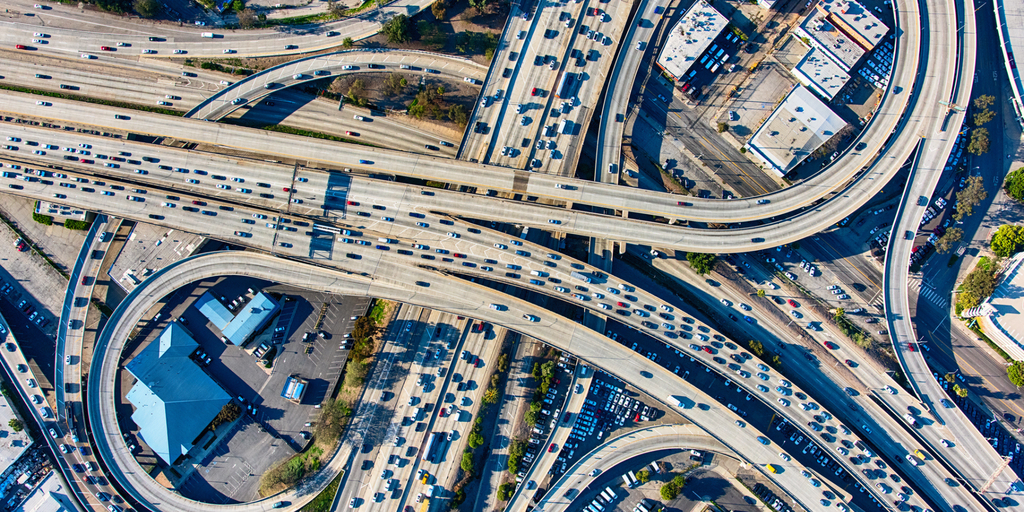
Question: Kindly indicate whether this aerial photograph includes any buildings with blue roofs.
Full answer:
Yes, the image includes a building with a blue roof.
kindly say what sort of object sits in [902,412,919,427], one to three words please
vehicle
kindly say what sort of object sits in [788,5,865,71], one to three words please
building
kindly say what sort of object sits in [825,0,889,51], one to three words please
building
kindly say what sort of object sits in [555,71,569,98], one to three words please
vehicle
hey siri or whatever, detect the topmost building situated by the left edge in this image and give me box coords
[36,200,97,222]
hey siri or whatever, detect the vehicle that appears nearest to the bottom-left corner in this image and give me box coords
[13,471,31,485]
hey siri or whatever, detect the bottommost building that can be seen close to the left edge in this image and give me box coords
[13,467,87,512]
